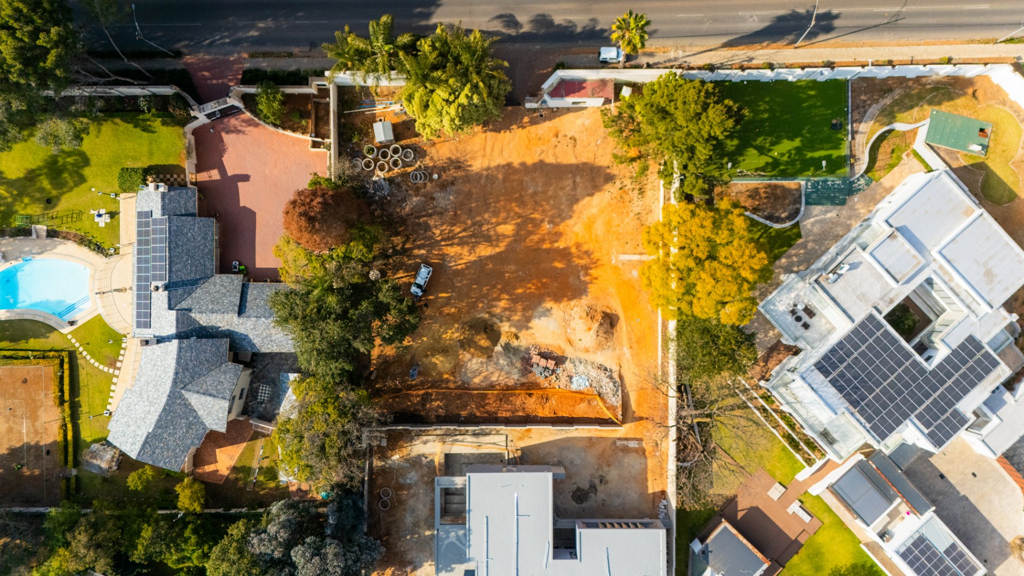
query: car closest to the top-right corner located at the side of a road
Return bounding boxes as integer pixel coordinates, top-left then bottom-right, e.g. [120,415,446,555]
[597,46,625,62]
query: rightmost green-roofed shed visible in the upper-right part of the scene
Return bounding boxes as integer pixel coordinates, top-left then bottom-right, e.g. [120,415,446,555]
[923,110,992,157]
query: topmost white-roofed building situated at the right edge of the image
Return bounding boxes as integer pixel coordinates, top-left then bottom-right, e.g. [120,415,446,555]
[752,170,1024,461]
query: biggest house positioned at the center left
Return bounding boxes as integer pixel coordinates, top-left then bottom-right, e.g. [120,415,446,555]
[107,183,301,472]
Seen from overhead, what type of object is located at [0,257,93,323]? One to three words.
swimming pool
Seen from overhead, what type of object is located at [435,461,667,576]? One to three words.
house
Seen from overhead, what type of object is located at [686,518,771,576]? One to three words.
building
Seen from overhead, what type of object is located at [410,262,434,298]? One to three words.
car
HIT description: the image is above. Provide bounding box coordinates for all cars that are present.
[597,46,625,62]
[410,262,434,298]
